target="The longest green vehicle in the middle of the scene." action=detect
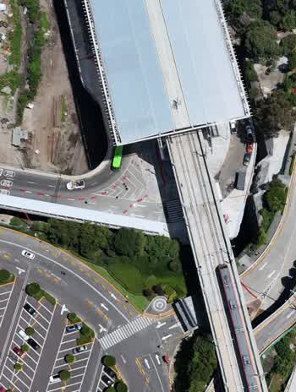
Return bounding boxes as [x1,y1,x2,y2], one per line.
[112,143,125,171]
